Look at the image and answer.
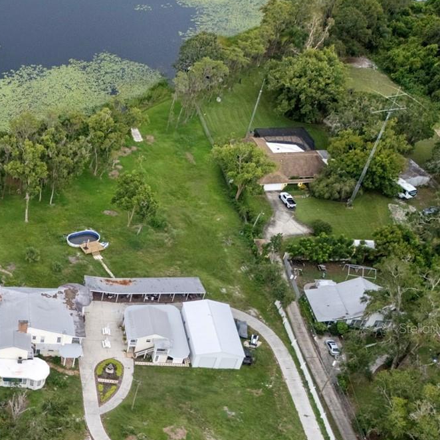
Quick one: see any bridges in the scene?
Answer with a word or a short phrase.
No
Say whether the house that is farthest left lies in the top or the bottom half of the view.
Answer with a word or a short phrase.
bottom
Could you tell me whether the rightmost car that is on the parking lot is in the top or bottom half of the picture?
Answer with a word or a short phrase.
bottom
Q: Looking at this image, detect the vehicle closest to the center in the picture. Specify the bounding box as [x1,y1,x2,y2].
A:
[279,191,299,207]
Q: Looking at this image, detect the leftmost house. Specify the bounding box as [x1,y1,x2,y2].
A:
[0,283,93,391]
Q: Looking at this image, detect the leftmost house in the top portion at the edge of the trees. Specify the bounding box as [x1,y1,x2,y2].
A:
[251,116,329,193]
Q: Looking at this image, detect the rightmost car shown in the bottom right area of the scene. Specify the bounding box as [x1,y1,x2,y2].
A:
[324,337,343,357]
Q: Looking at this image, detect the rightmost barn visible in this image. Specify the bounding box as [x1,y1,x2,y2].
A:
[395,163,432,187]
